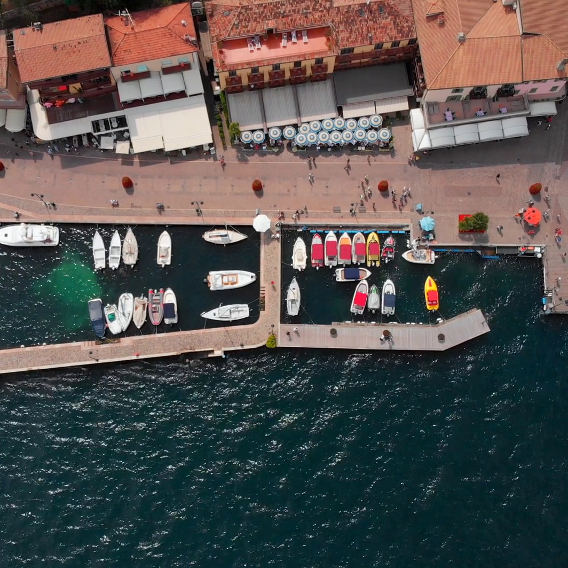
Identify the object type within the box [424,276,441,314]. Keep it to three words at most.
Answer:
boat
